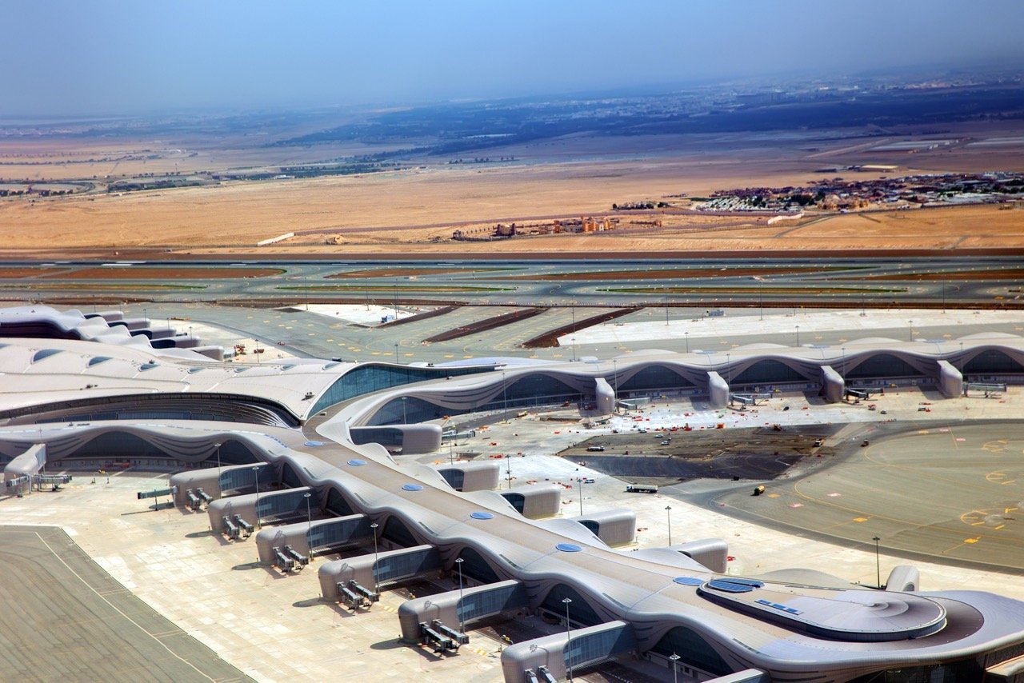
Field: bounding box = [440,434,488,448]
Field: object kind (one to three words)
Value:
jet bridge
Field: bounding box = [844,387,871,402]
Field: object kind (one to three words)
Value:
jet bridge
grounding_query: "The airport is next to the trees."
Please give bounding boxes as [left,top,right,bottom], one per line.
[0,247,1024,683]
